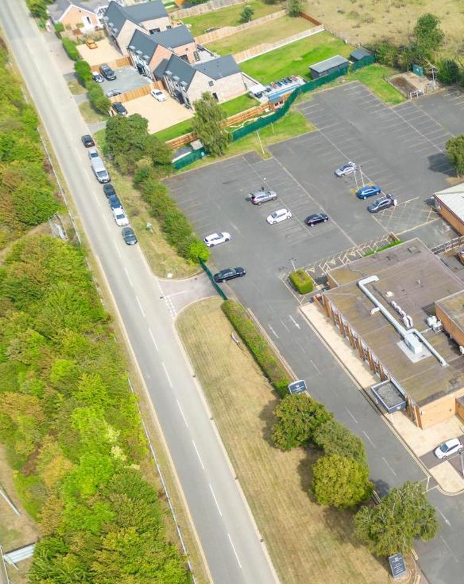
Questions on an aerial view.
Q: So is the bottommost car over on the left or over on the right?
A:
right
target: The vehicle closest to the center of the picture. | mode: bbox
[214,267,247,283]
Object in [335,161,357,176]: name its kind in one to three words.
car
